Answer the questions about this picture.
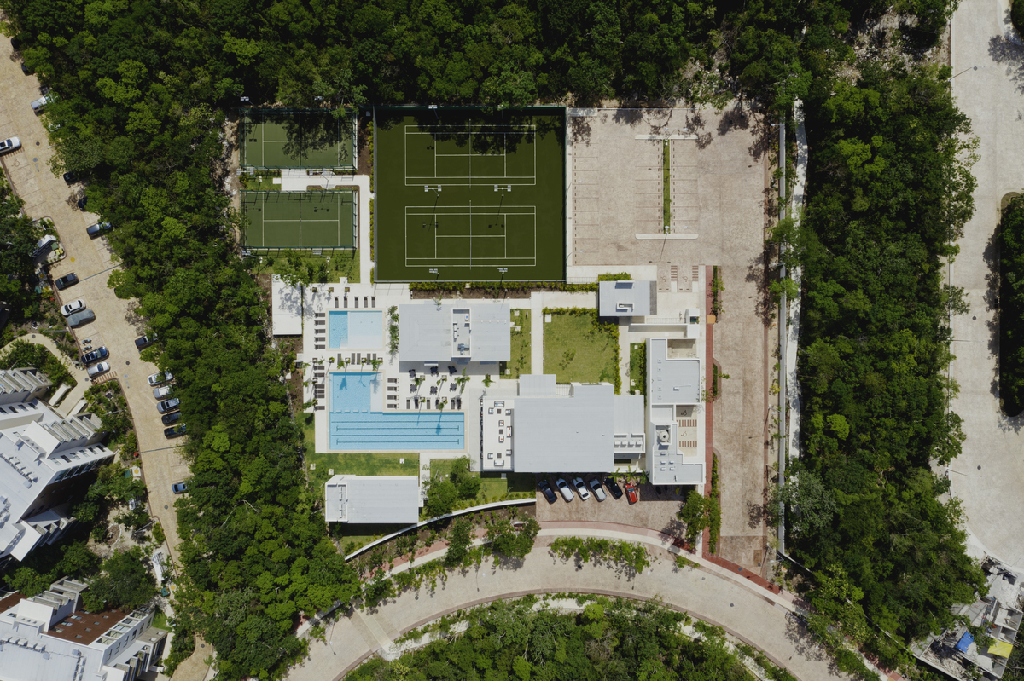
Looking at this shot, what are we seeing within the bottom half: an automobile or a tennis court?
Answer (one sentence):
What appears within the bottom half is an automobile.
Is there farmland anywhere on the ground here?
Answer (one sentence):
No, farmland can't be seen anywhere here.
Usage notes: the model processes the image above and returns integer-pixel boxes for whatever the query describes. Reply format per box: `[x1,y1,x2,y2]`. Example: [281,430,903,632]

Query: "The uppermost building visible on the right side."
[599,281,657,316]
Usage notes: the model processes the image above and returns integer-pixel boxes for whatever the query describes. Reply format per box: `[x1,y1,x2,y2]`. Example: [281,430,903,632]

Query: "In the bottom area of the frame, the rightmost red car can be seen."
[625,484,638,505]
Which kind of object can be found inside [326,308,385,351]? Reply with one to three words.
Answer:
swimming pool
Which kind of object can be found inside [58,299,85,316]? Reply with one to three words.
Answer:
car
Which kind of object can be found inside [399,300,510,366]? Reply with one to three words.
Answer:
building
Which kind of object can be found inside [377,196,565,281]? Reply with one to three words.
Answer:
tennis court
